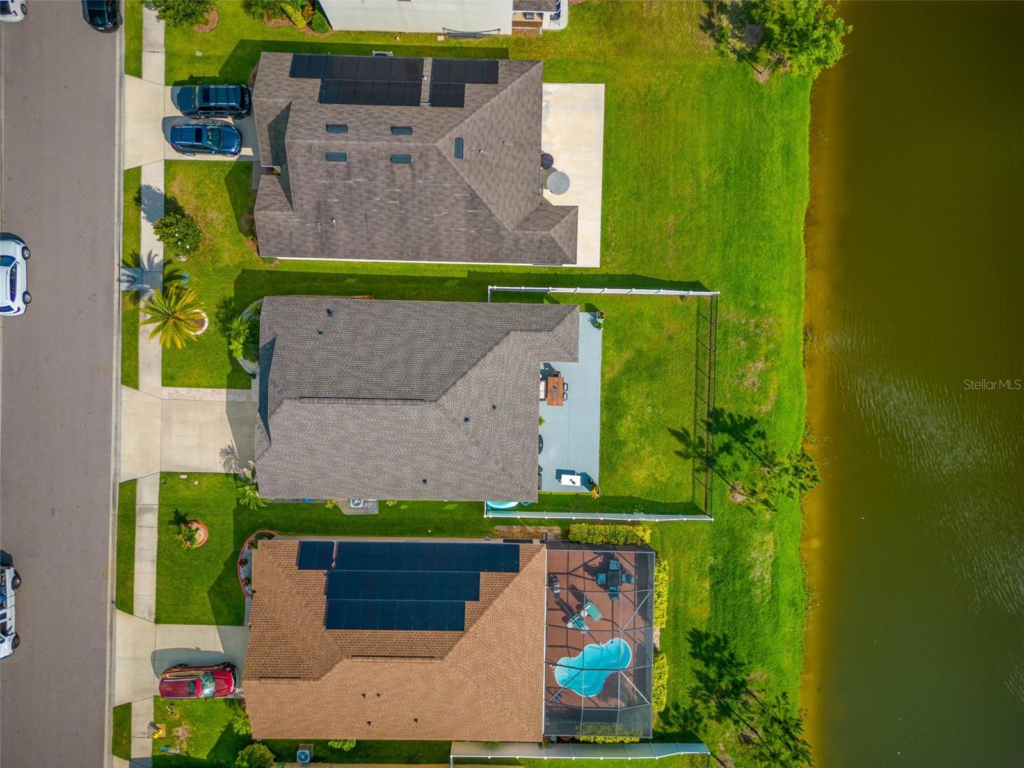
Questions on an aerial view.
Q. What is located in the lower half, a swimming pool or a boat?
swimming pool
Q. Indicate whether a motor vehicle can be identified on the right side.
No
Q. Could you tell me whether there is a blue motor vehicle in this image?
Yes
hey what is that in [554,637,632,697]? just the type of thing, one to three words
swimming pool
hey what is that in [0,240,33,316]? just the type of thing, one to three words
car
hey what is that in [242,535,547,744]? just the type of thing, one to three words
house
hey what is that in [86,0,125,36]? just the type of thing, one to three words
car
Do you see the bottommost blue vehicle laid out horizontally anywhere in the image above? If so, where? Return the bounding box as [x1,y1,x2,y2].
[169,122,246,160]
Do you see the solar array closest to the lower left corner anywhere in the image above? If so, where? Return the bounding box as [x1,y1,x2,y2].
[297,542,519,631]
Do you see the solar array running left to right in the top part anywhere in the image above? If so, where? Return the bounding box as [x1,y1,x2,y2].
[289,54,499,107]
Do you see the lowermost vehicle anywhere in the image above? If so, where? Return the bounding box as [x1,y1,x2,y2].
[159,661,240,702]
